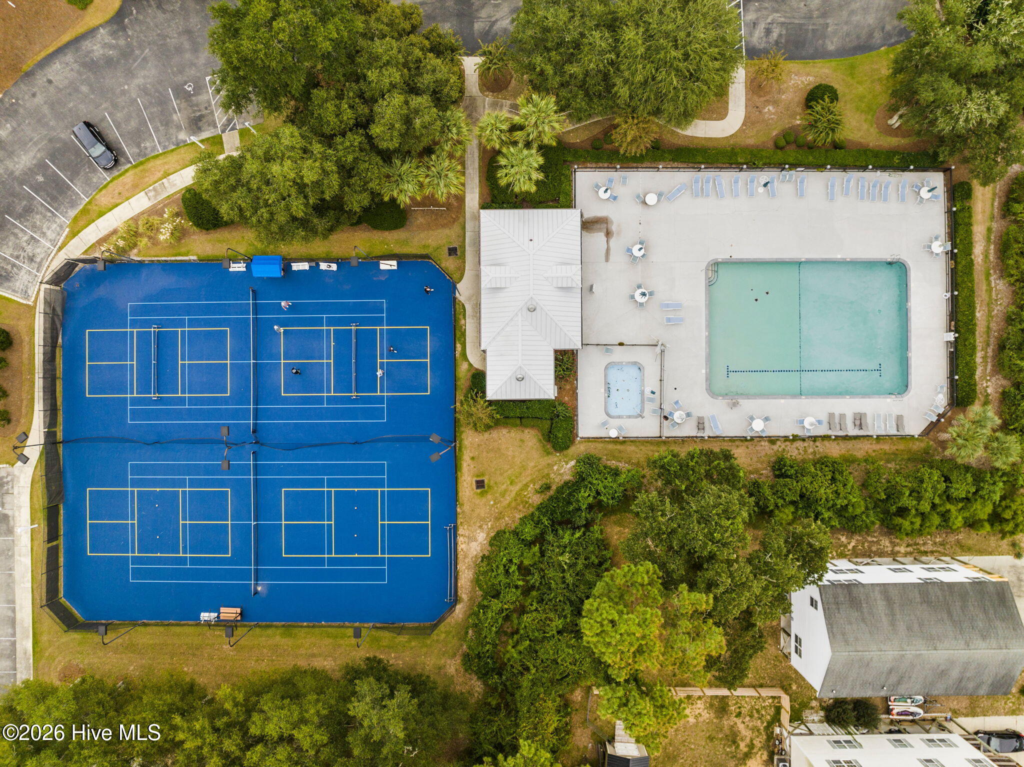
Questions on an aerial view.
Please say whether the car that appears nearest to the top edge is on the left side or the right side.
left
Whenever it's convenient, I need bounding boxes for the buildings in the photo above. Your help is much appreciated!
[606,741,649,767]
[479,208,583,400]
[780,556,1024,697]
[780,719,1015,767]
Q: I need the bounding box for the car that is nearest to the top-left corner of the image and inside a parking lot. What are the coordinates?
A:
[70,116,118,173]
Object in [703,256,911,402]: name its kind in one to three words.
swimming pool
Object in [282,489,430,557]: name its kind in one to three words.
sports court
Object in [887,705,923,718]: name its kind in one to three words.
boat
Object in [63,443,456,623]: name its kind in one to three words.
tennis court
